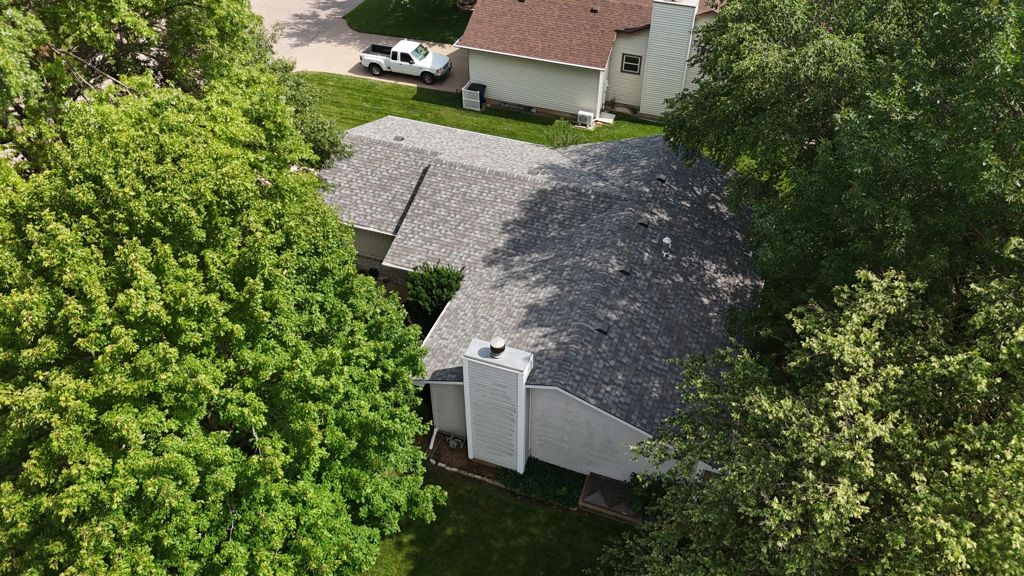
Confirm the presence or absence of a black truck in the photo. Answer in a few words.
No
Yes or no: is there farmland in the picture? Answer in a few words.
No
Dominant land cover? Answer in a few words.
trees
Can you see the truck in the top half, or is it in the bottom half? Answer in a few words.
top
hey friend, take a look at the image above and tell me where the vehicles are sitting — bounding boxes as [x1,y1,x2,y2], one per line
[358,39,455,84]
